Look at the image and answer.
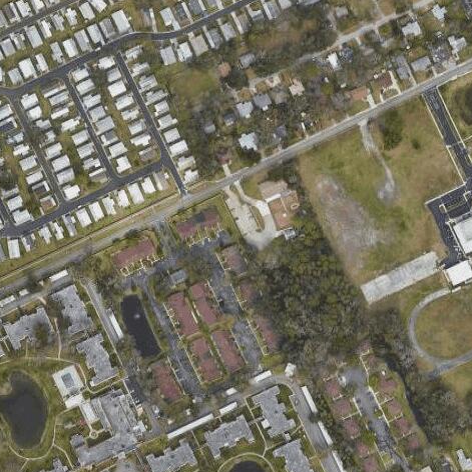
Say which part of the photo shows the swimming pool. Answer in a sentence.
The swimming pool is located in the bottom left region of the scene.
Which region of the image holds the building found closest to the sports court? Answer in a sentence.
Look in the right portion of the view to spot the building found closest to the sports court.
